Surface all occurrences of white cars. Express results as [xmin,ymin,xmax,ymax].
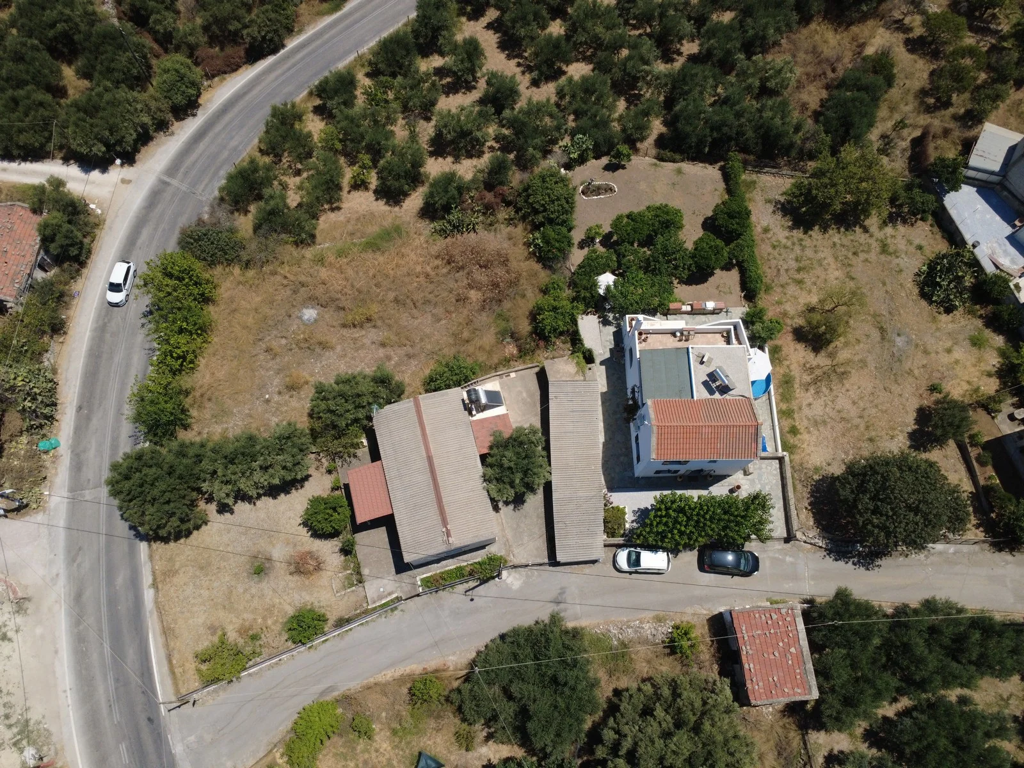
[105,260,142,308]
[612,545,672,577]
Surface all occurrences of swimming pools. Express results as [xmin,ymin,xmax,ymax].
[745,371,776,401]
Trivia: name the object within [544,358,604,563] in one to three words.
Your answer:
shed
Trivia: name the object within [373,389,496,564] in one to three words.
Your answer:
building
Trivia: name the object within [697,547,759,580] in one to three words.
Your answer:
car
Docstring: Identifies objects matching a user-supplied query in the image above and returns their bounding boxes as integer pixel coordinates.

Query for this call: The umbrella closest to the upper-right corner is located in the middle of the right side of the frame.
[744,350,772,376]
